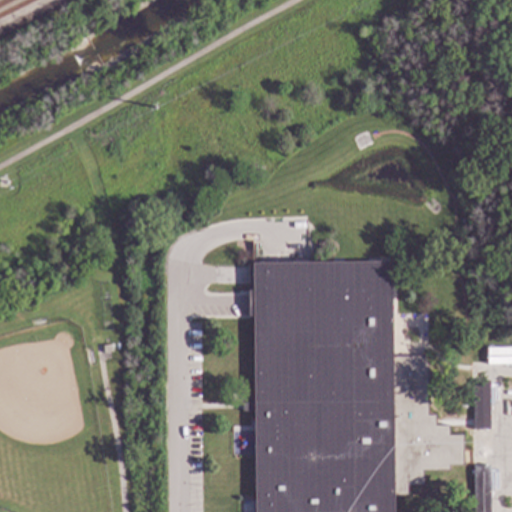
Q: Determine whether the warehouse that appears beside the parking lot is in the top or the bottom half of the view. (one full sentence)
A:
You can find the warehouse that appears beside the parking lot in the bottom half.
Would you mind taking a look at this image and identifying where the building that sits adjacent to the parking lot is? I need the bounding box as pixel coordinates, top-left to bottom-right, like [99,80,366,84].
[244,262,398,512]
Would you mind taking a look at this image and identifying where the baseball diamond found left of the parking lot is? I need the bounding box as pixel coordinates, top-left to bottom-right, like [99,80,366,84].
[0,332,84,444]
